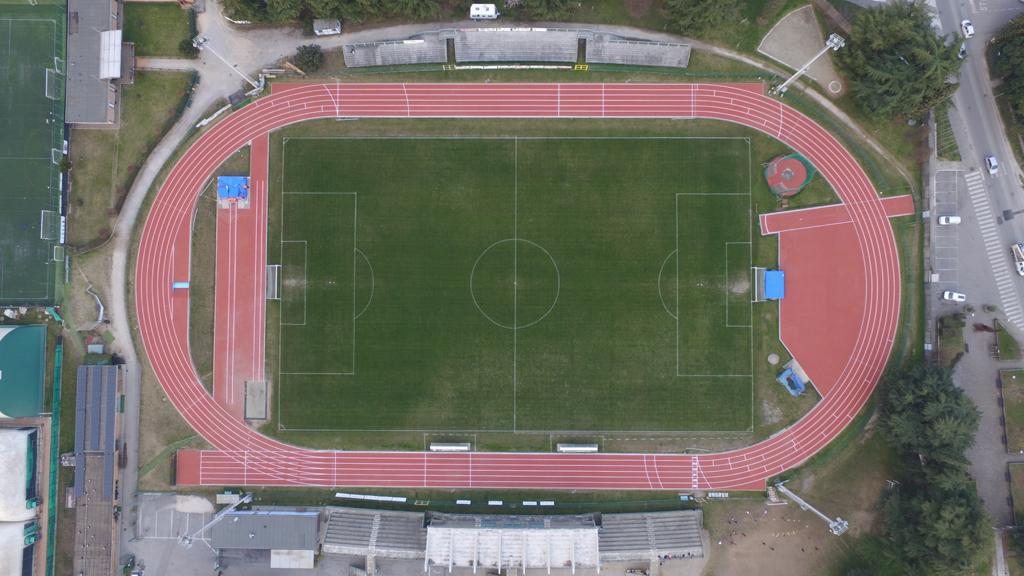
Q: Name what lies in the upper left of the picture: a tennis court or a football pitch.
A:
football pitch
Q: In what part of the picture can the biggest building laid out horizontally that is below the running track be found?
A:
bottom left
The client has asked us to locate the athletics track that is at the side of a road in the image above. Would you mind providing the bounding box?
[135,83,901,491]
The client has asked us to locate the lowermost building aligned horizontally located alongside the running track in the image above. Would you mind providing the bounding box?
[212,508,323,548]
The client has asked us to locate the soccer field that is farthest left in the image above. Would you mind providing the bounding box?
[0,8,69,305]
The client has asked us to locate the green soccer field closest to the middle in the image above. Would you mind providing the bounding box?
[278,137,754,452]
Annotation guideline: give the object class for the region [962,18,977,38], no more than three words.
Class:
car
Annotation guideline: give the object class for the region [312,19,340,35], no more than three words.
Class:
vehicle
